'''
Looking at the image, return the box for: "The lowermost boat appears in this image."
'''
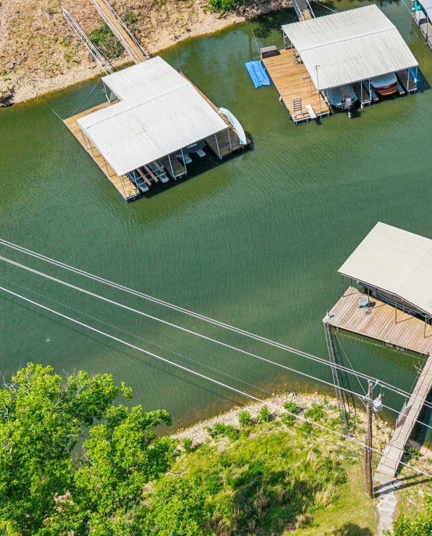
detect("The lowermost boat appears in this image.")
[175,141,206,165]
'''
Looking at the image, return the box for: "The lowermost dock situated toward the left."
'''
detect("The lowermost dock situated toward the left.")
[63,55,251,204]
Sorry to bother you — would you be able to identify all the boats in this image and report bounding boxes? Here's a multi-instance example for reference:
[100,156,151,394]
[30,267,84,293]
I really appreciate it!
[175,141,206,165]
[322,85,353,112]
[365,74,396,99]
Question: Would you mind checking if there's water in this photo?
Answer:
Yes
